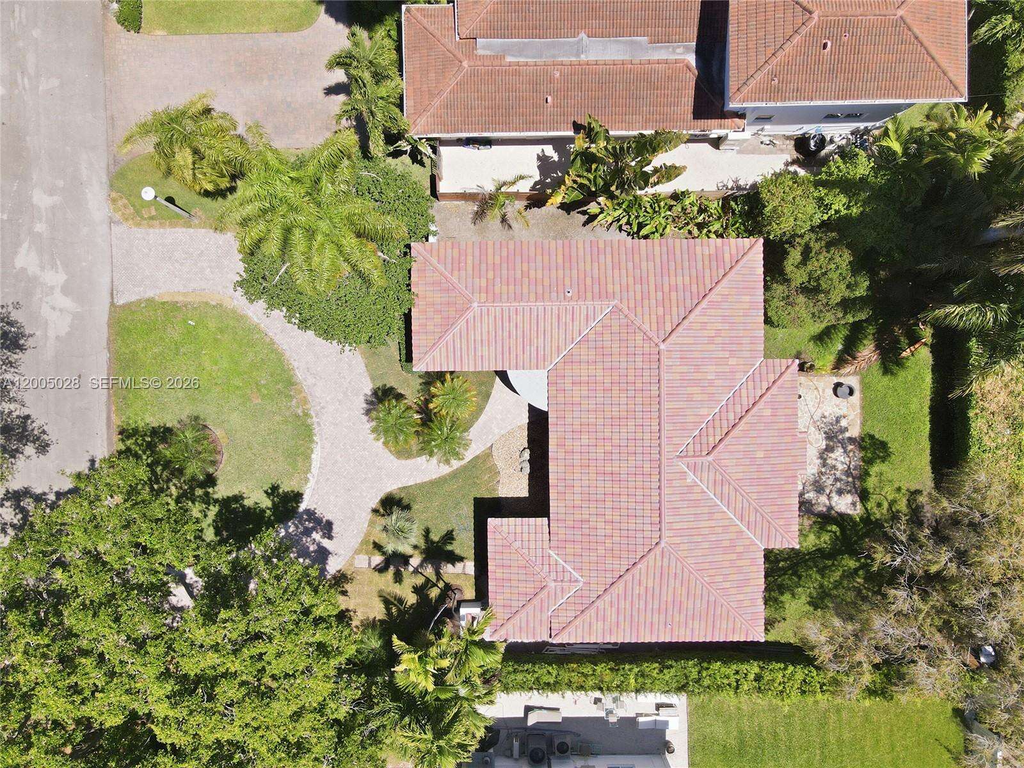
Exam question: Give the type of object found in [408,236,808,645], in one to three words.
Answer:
house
